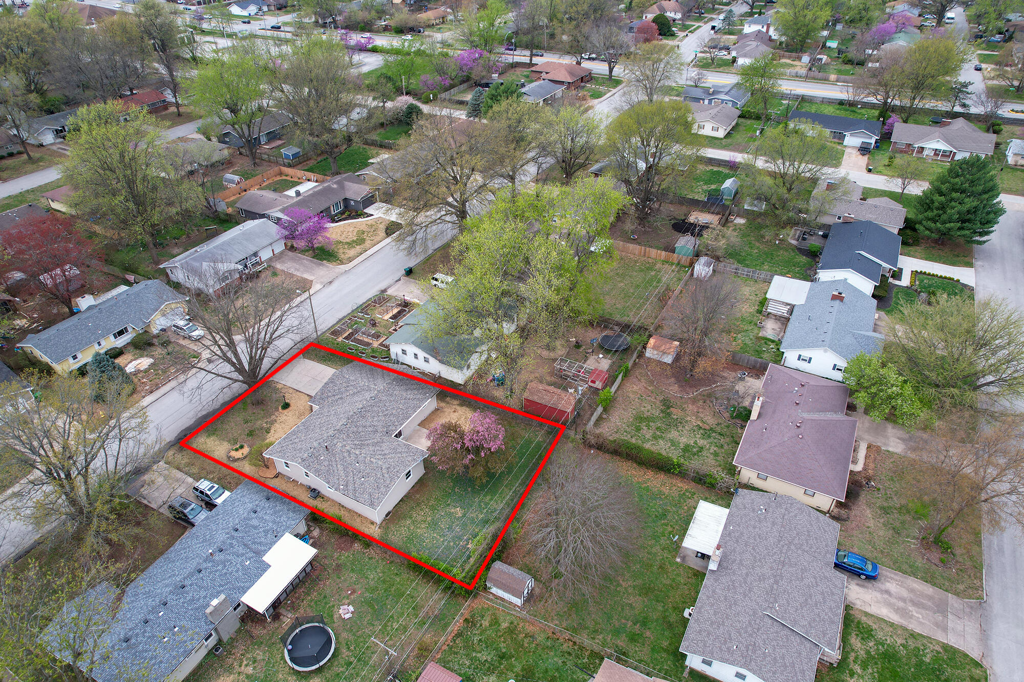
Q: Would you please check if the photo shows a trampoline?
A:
Yes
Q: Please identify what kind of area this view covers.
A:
residential area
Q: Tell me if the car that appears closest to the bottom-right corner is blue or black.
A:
blue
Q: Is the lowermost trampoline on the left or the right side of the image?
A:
left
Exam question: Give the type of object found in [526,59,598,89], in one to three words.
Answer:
house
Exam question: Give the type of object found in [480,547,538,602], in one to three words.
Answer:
shed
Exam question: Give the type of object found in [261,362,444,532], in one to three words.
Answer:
house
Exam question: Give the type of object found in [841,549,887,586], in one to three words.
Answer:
car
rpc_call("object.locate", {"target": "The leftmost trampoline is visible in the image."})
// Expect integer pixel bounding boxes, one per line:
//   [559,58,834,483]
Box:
[277,609,333,673]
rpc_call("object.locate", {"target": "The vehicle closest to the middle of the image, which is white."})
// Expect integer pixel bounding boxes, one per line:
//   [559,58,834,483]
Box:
[429,271,457,288]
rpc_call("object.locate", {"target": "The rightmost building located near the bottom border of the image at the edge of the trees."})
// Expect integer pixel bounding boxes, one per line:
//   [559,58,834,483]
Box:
[678,481,848,682]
